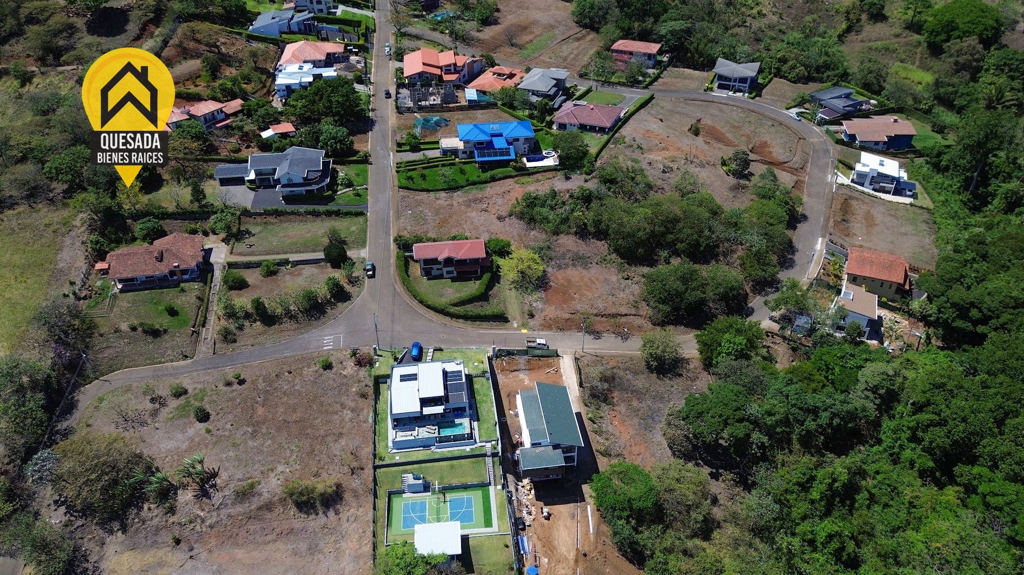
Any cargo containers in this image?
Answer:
No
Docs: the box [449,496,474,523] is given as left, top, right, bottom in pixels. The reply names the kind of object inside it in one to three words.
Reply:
sports court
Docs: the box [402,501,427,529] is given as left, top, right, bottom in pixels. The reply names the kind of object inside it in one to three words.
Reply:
sports court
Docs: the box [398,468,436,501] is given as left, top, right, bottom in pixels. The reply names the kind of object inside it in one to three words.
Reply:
shed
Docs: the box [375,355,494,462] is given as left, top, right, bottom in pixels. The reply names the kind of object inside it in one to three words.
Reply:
house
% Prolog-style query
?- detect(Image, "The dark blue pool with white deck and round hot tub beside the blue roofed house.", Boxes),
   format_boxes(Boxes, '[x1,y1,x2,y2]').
[522,149,556,167]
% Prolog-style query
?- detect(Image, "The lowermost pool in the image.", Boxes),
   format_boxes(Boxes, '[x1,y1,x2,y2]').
[437,420,465,432]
